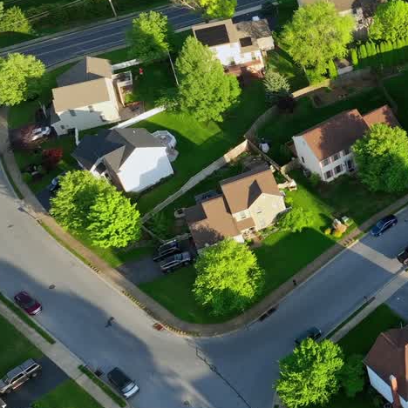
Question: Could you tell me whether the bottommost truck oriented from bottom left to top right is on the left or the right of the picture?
left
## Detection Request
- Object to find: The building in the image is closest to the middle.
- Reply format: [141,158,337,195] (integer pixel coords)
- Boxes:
[181,163,286,257]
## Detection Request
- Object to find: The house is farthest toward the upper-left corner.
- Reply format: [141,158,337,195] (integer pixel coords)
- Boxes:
[40,57,135,140]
